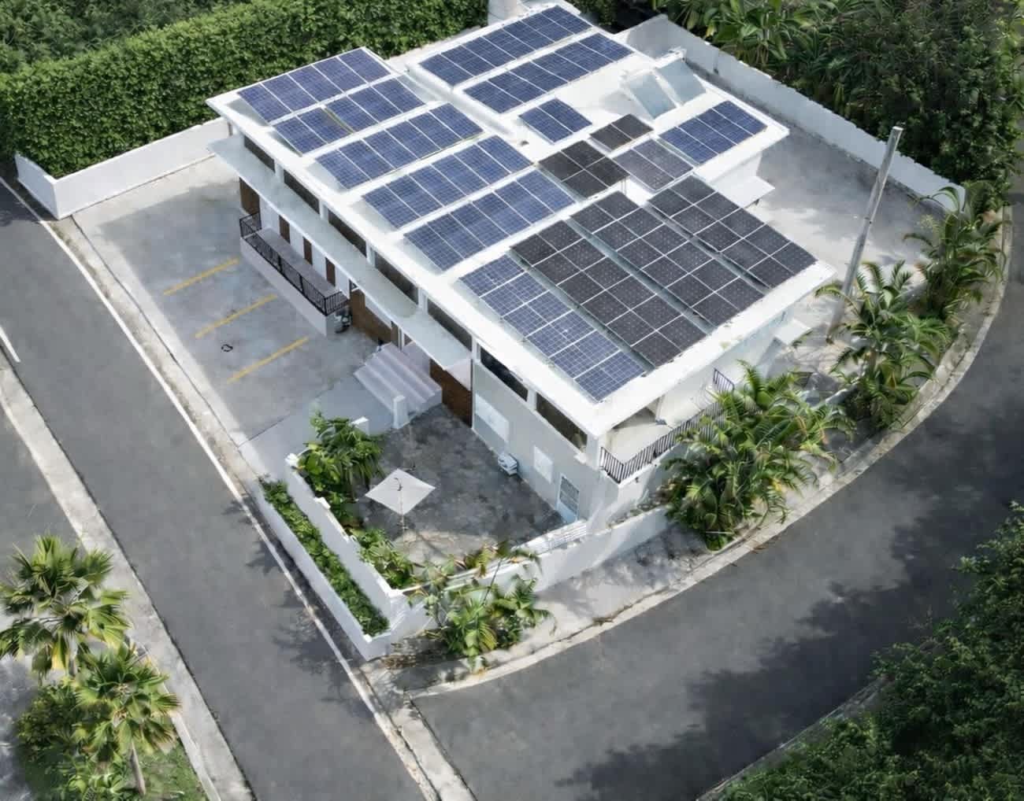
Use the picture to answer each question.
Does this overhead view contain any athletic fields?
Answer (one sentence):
No, no athletic field is visible in the view.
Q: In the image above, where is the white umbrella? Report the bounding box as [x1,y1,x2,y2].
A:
[367,469,435,545]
